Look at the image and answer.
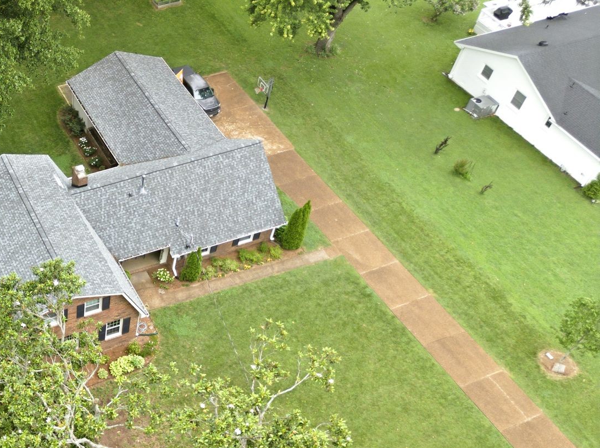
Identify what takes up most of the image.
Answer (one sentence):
For the most part, this view shows grass.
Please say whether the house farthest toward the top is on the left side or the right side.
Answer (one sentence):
The house farthest toward the top is on the right side of the image.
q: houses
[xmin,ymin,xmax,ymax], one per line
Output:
[0,52,288,369]
[449,5,600,186]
